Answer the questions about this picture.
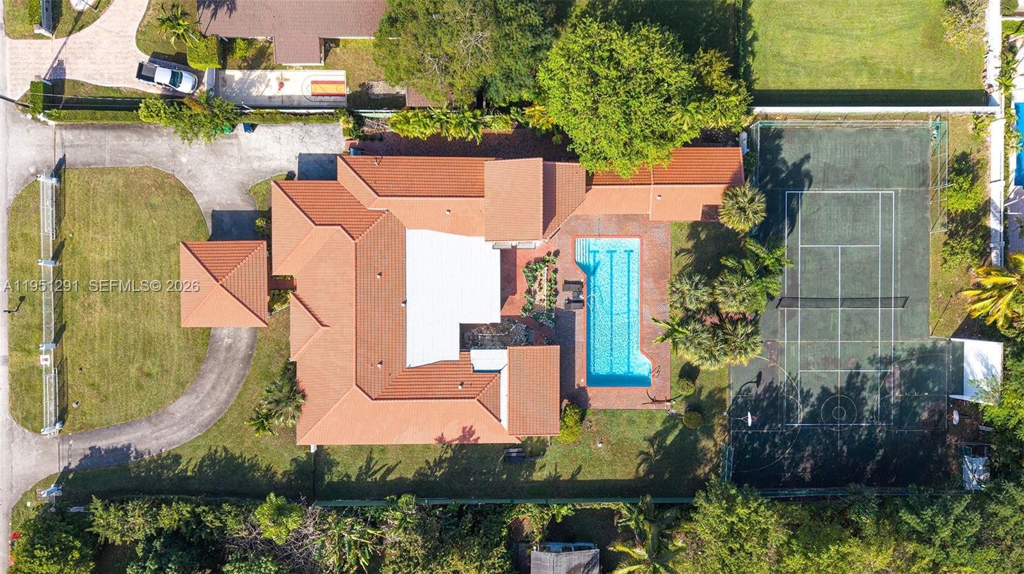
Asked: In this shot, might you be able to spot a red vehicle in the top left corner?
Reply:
No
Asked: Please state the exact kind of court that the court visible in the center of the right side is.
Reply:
tennis court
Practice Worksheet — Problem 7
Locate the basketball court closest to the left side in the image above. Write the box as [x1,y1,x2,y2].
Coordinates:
[215,70,346,107]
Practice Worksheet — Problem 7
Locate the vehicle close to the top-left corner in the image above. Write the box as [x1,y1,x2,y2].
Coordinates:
[137,57,201,93]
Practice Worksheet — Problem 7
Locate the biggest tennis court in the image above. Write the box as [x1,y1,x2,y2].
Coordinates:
[728,125,964,491]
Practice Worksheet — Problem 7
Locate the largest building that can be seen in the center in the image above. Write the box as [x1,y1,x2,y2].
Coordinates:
[271,147,747,445]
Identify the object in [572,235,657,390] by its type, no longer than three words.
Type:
swimming pool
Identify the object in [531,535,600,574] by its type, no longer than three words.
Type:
shed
